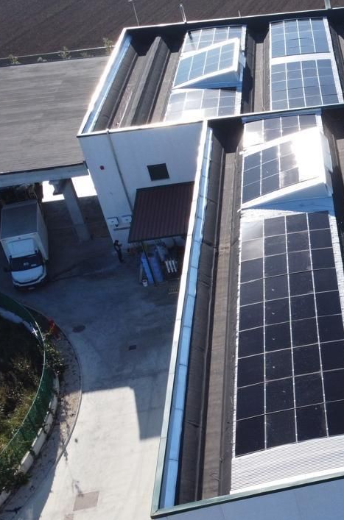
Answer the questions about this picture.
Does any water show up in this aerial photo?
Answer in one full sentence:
No, there is no water in the image.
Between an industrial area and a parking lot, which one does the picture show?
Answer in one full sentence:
This looks like an industrial area.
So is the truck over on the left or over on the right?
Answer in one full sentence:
The truck sits on the left side.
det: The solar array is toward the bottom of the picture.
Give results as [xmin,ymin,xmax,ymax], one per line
[231,211,344,459]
